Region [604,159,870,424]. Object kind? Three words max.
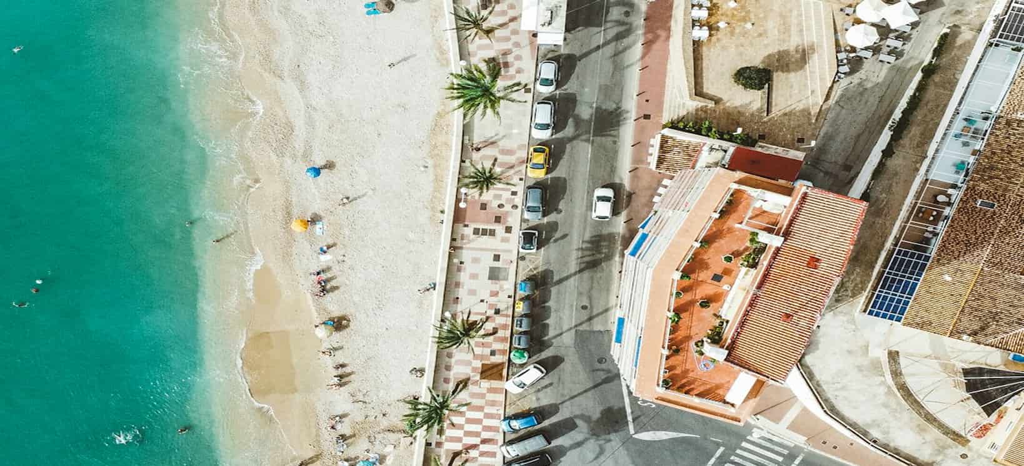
building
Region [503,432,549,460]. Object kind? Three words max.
car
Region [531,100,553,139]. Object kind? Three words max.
car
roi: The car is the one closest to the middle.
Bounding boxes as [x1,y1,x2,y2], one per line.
[518,229,538,253]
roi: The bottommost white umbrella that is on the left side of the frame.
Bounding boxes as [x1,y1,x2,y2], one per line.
[316,322,334,337]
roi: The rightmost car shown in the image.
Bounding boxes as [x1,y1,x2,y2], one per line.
[592,186,615,220]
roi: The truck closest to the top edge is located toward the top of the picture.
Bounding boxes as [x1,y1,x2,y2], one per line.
[522,0,564,37]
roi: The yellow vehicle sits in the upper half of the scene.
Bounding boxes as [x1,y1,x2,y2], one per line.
[527,144,549,179]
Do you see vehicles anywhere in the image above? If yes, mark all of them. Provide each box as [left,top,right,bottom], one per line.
[503,432,549,460]
[527,144,549,179]
[518,229,538,253]
[501,413,539,435]
[536,58,559,94]
[507,361,547,395]
[531,100,553,139]
[592,186,615,220]
[508,450,550,466]
[522,0,564,37]
[523,184,544,221]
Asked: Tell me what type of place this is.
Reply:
beach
